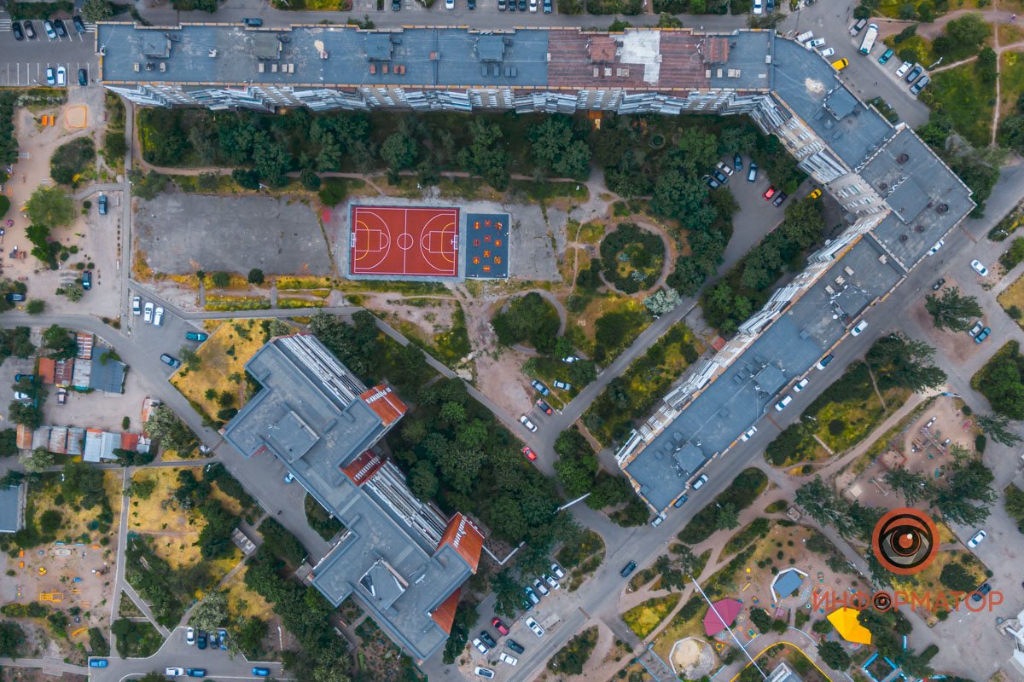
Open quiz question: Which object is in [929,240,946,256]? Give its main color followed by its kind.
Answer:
white car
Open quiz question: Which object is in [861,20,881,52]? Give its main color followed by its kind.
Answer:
white vehicle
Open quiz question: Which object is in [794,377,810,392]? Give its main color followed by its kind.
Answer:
white car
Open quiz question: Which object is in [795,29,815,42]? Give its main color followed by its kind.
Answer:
white vehicle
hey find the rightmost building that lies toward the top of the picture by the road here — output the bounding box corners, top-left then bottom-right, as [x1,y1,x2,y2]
[825,120,976,271]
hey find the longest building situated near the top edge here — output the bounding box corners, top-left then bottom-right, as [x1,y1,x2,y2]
[96,21,774,130]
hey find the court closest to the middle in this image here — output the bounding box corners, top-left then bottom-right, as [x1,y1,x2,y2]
[465,213,510,277]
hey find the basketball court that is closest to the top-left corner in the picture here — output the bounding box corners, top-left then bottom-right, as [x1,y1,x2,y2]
[351,205,459,276]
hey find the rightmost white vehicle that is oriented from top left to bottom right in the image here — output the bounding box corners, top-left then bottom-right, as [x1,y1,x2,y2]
[972,260,988,276]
